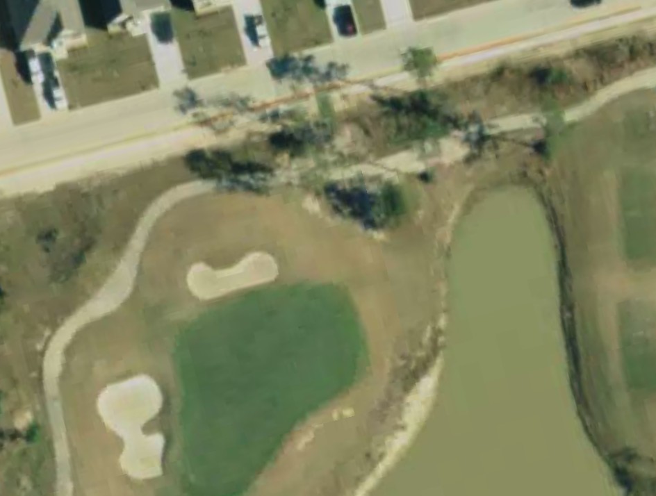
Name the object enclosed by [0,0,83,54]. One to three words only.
house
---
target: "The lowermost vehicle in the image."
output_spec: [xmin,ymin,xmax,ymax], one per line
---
[52,79,68,112]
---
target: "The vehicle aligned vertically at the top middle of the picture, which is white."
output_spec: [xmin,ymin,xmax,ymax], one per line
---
[252,14,269,47]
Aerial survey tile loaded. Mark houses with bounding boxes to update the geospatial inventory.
[189,0,253,18]
[97,0,168,37]
[0,0,83,54]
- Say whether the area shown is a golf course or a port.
golf course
